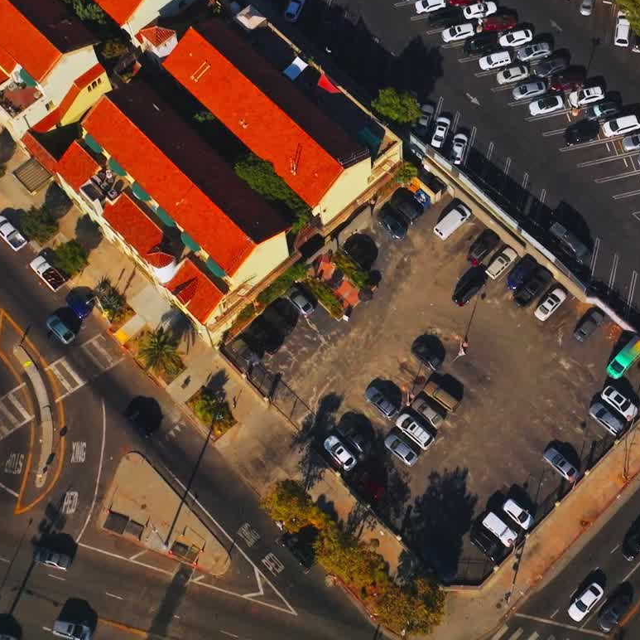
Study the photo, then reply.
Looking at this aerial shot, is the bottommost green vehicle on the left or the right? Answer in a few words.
right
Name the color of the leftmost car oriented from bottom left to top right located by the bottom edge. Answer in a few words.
white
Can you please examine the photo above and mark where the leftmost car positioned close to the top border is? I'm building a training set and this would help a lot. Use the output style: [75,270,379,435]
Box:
[285,0,306,26]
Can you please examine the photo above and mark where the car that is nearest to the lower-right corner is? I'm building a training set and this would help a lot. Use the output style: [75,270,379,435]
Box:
[597,588,634,629]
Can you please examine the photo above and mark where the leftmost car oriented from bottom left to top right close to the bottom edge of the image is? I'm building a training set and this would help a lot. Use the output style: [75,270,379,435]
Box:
[568,582,605,622]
